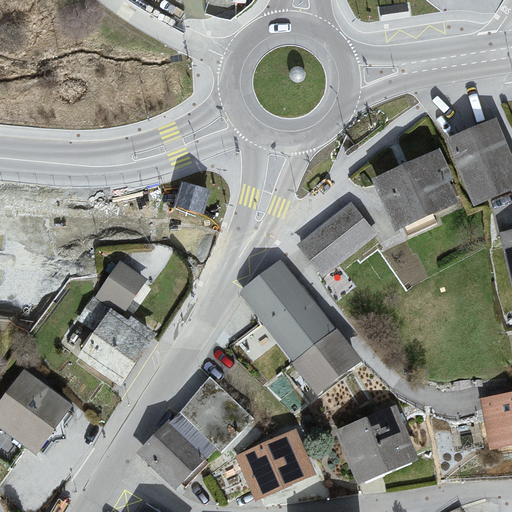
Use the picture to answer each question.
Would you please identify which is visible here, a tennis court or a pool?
pool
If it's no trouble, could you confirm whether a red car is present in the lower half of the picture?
Yes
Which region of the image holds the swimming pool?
bottom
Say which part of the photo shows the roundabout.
top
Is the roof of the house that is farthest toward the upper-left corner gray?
Yes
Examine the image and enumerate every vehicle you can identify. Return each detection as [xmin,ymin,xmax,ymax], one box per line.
[490,194,512,208]
[434,114,452,136]
[52,496,72,512]
[160,0,186,21]
[204,361,224,380]
[313,178,338,195]
[235,492,254,506]
[138,0,158,12]
[468,88,482,122]
[213,350,235,369]
[268,22,291,34]
[430,94,453,118]
[156,409,175,430]
[190,482,210,504]
[84,422,100,444]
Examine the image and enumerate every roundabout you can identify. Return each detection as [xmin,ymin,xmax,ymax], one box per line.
[218,9,362,155]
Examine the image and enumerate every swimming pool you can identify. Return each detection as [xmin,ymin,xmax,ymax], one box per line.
[266,374,309,415]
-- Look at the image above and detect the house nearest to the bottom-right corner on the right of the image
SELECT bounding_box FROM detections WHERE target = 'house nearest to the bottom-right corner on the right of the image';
[480,391,512,450]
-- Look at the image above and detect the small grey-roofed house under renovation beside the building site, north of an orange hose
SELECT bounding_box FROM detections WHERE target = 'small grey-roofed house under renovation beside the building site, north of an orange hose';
[175,182,211,214]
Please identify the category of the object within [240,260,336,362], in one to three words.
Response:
building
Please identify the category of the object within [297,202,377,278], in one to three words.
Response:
shed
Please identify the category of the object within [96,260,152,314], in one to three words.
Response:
house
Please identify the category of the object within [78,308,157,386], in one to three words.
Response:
house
